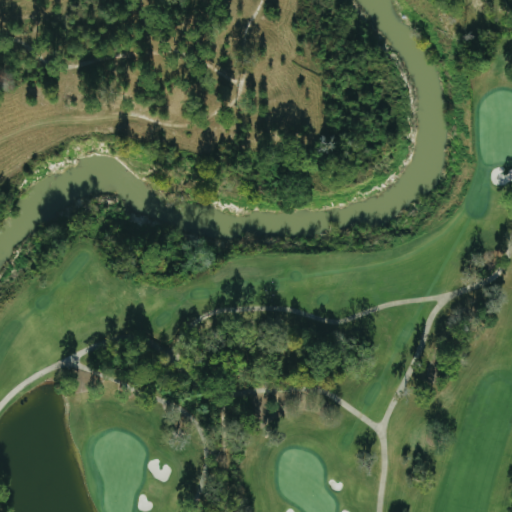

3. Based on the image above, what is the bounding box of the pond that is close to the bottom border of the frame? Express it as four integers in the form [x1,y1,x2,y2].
[0,384,96,512]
